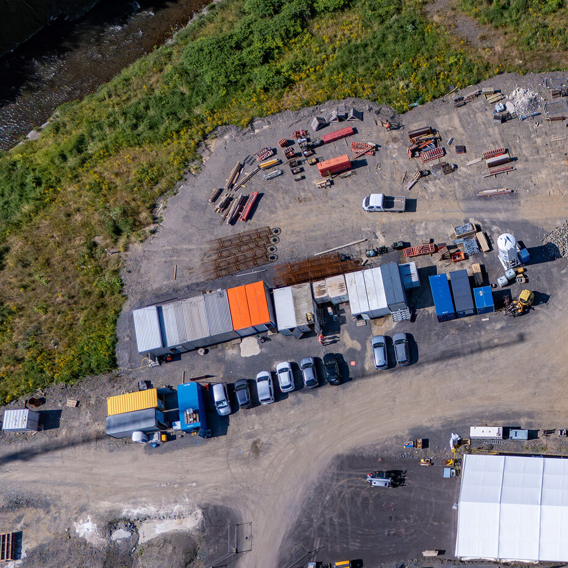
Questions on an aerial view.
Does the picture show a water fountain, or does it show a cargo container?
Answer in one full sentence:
The one in the frame is a cargo container.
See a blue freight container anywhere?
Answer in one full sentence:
Yes, I can see a blue freight container in this picture.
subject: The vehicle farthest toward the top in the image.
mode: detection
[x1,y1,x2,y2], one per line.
[363,194,407,212]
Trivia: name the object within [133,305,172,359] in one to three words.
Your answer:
building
